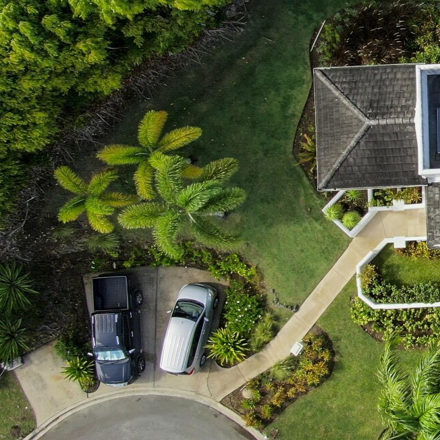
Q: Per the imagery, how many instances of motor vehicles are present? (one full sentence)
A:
In total, there are 2 motor vehicles in the scene.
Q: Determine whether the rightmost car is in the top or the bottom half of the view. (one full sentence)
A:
The bottom half of the photo is where the rightmost car is.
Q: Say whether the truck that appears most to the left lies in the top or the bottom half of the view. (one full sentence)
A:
The truck that appears most to the left sits in the bottom half of the picture.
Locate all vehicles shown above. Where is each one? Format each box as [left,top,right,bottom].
[89,261,153,384]
[164,279,228,380]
